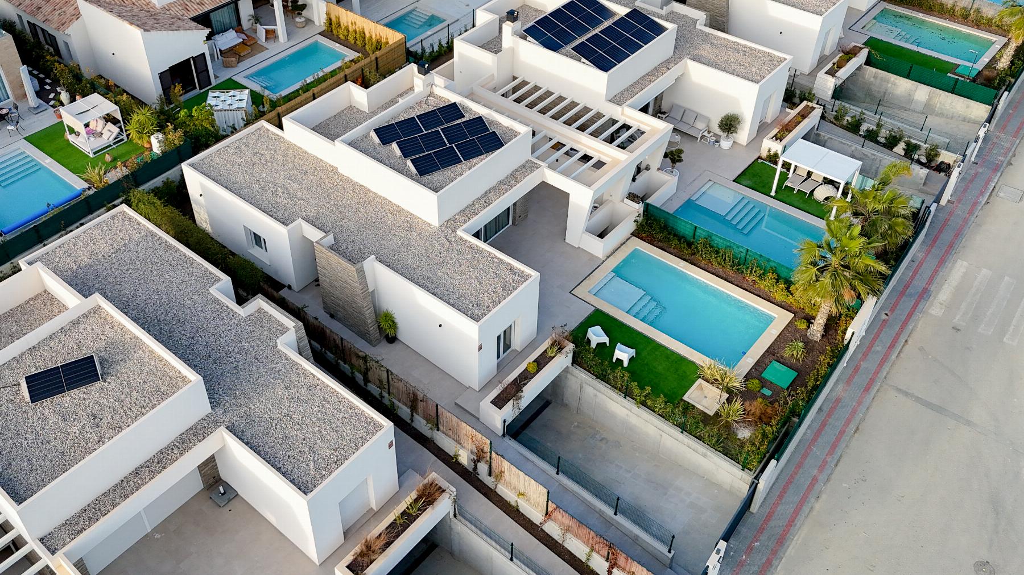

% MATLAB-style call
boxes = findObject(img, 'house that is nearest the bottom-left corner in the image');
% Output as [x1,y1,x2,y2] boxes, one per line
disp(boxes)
[0,205,400,575]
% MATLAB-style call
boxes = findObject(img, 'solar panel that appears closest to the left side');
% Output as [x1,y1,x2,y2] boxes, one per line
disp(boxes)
[22,350,104,405]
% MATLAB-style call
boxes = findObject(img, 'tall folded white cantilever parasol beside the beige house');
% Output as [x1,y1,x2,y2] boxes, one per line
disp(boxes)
[15,57,47,113]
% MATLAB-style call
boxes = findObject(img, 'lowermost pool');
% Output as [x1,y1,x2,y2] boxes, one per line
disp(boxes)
[568,235,794,384]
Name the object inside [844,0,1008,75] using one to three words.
swimming pool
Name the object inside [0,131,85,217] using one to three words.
swimming pool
